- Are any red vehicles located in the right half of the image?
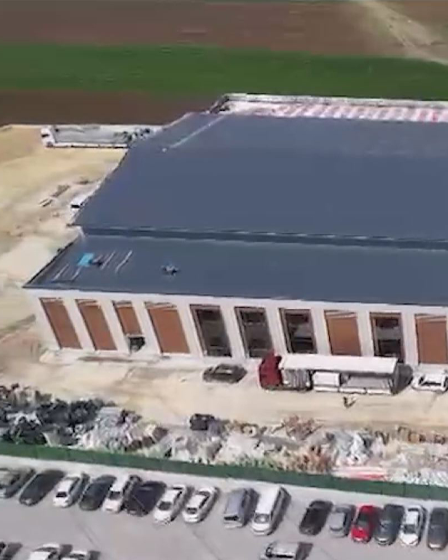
Yes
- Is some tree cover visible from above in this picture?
No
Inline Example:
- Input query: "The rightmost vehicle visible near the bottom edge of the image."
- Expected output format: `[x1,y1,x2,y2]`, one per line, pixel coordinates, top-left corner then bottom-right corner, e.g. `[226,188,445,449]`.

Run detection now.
[424,504,448,553]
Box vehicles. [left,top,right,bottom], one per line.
[326,500,358,542]
[180,483,220,527]
[298,497,332,539]
[0,461,38,503]
[64,193,95,215]
[375,502,404,548]
[424,504,448,553]
[76,474,118,513]
[49,471,93,509]
[219,480,263,534]
[399,502,427,548]
[100,473,143,516]
[350,502,382,544]
[124,474,169,519]
[412,372,448,393]
[253,344,401,394]
[248,482,291,537]
[255,540,309,560]
[201,363,247,385]
[16,465,66,508]
[152,481,193,525]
